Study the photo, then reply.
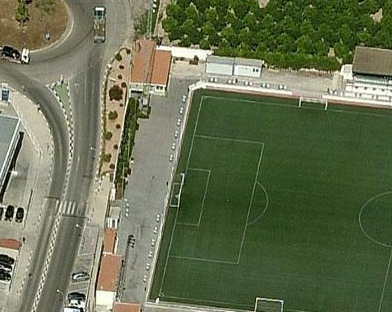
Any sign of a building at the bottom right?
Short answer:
No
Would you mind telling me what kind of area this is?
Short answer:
sports ground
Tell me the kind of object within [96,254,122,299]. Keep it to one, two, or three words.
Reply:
shed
